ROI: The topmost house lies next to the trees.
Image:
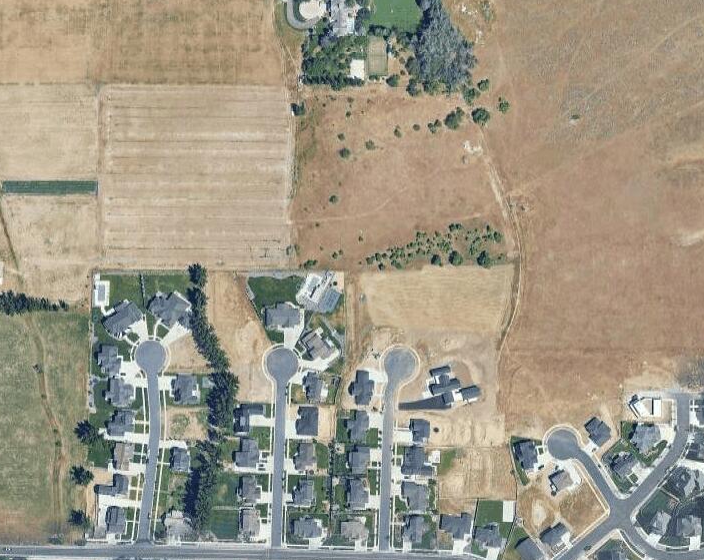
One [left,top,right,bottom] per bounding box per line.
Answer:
[329,0,355,36]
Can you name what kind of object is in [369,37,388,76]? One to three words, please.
tennis court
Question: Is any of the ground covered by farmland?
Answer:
Yes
